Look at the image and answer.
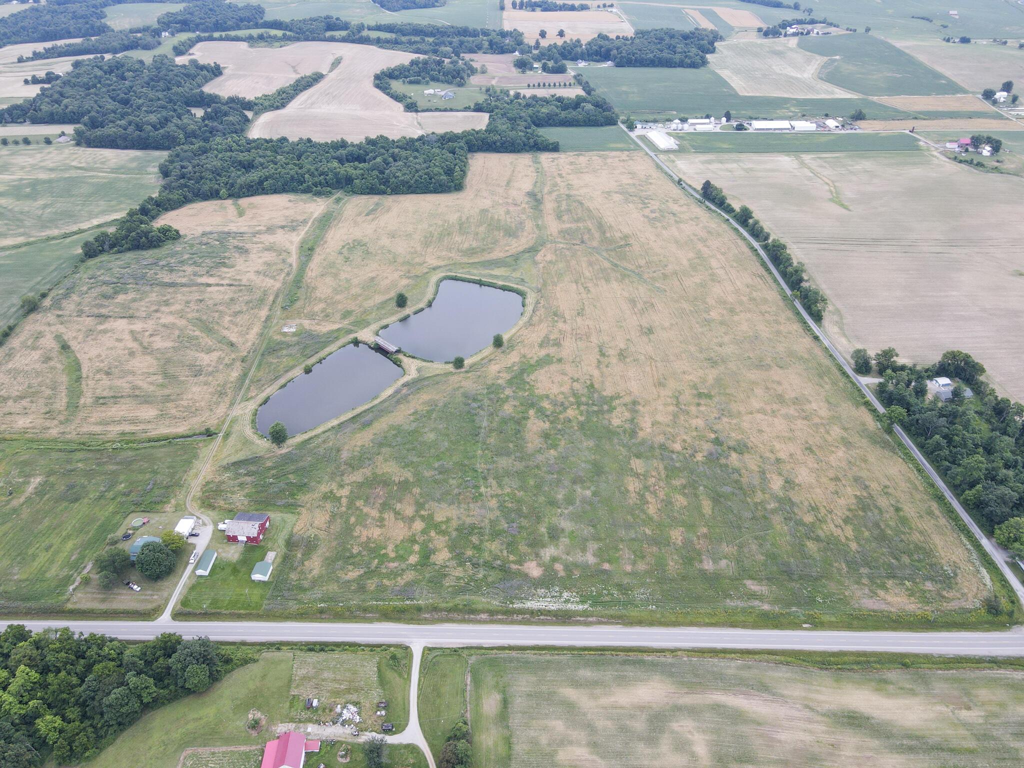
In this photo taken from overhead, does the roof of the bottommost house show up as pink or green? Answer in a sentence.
In this view, the roof of the bottommost house is pink.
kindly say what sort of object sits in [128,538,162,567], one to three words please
house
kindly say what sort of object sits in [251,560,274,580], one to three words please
shed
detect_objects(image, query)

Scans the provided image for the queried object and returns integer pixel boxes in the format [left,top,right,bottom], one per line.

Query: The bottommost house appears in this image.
[262,730,323,768]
